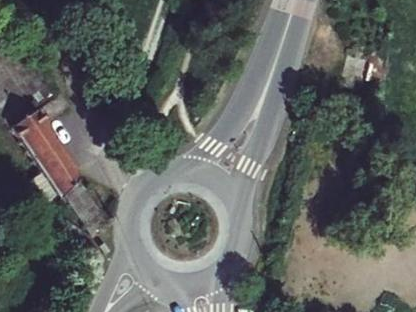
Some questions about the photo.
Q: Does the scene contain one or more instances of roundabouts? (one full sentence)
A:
Yes, you can see a roundabout in this photo.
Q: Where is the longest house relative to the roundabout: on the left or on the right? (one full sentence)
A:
The roundabout has the longest house on its left side.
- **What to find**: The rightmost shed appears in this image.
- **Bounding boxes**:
[366,56,386,80]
